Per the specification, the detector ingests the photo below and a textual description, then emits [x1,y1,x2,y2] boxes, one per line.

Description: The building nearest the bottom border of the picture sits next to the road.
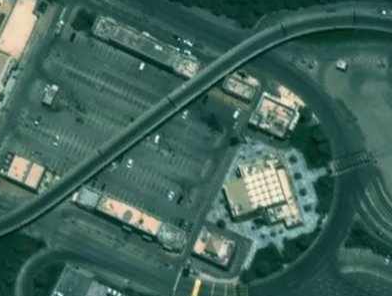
[192,227,237,266]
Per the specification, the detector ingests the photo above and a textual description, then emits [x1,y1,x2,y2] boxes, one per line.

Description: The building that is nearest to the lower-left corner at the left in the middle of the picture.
[0,153,49,191]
